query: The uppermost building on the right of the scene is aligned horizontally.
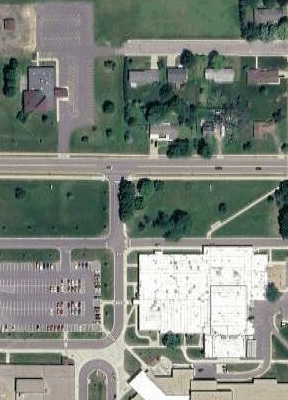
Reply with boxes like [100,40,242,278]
[251,8,285,23]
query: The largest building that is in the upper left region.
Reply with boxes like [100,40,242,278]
[24,66,69,113]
